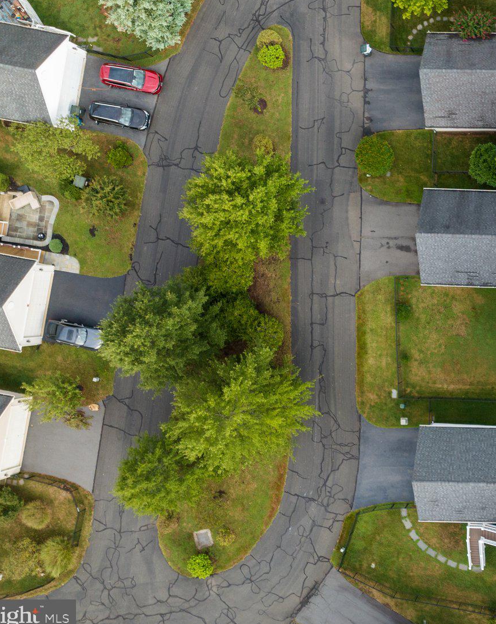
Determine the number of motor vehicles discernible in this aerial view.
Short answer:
3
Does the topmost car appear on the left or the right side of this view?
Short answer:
left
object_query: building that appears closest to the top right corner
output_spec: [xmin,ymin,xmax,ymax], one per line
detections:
[419,32,496,133]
